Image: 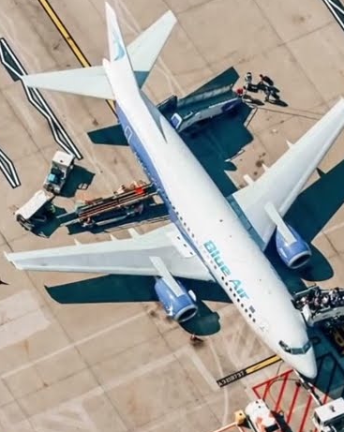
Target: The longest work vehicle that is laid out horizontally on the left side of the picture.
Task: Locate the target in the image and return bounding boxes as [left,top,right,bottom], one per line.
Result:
[70,187,161,229]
